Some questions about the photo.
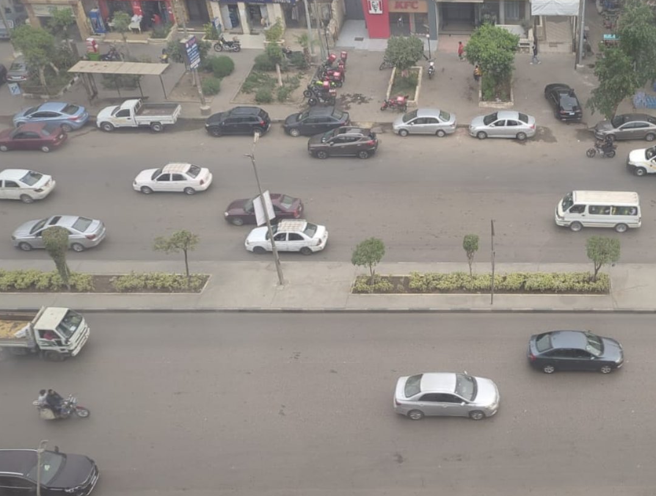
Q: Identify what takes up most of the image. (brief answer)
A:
paved ground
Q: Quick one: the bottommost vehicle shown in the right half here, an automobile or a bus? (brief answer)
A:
automobile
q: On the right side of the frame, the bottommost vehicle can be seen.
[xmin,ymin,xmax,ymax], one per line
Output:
[388,370,500,419]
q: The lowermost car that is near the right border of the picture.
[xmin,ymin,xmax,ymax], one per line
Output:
[523,328,627,373]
